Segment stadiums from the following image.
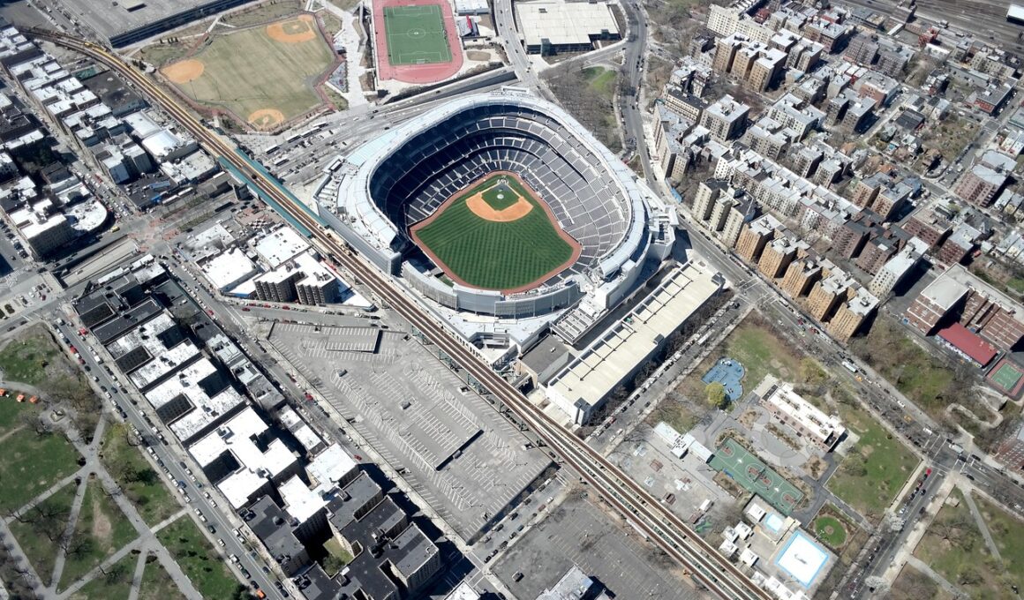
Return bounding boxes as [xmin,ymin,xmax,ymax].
[313,84,679,358]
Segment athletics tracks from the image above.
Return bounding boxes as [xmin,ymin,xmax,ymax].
[372,0,463,83]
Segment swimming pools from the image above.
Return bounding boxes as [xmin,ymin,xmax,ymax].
[762,511,785,535]
[774,530,831,590]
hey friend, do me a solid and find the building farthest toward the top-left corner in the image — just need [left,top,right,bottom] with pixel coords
[0,26,39,75]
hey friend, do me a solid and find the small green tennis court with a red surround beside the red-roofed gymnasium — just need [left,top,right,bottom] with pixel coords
[986,358,1024,397]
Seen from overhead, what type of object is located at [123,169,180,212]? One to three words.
building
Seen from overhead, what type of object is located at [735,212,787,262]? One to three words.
building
